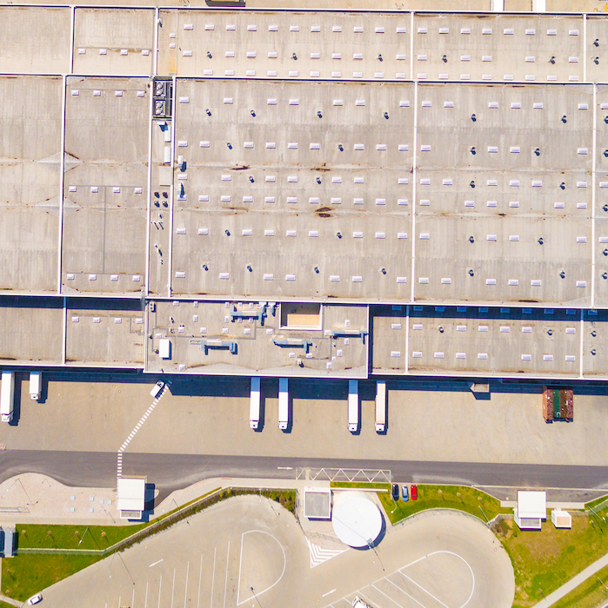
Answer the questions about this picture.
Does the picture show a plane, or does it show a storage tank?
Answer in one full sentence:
There is a storage tank in the scene.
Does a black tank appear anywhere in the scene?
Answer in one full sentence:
No, no black tank is visible in the scene.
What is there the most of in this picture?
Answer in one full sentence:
The scene is dominated by buildings.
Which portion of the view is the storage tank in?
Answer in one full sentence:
Look in the bottom portion of the view to spot the storage tank.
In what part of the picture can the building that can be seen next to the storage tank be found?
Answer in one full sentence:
The building that can be seen next to the storage tank sits in the bottom section of the image.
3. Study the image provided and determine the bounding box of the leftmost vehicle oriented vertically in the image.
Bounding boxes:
[1,372,15,423]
